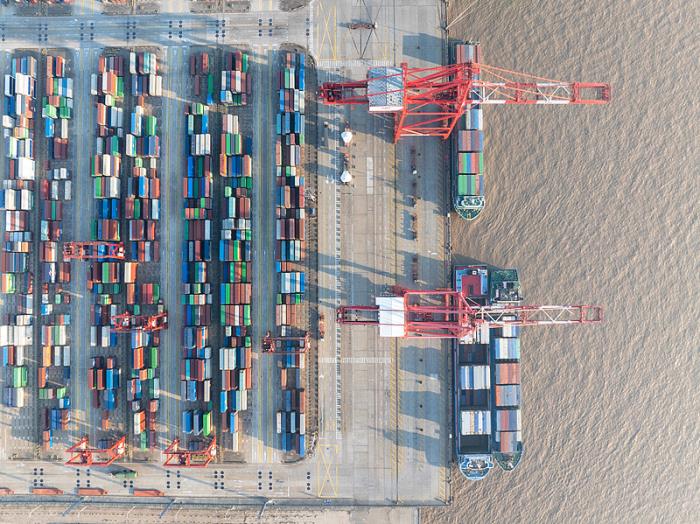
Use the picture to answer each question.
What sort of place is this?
port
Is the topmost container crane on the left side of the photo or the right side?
right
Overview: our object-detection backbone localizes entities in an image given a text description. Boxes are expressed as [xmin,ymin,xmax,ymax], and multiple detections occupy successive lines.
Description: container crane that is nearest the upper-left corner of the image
[65,240,129,263]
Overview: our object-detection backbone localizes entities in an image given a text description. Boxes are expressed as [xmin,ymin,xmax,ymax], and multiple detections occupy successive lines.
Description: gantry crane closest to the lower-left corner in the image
[62,434,126,469]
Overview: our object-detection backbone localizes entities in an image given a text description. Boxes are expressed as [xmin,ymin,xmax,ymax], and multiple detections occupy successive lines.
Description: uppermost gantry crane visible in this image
[319,60,612,151]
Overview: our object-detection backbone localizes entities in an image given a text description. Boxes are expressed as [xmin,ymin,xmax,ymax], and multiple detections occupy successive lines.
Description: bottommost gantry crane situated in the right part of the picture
[336,280,604,342]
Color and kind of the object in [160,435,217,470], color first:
red container crane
